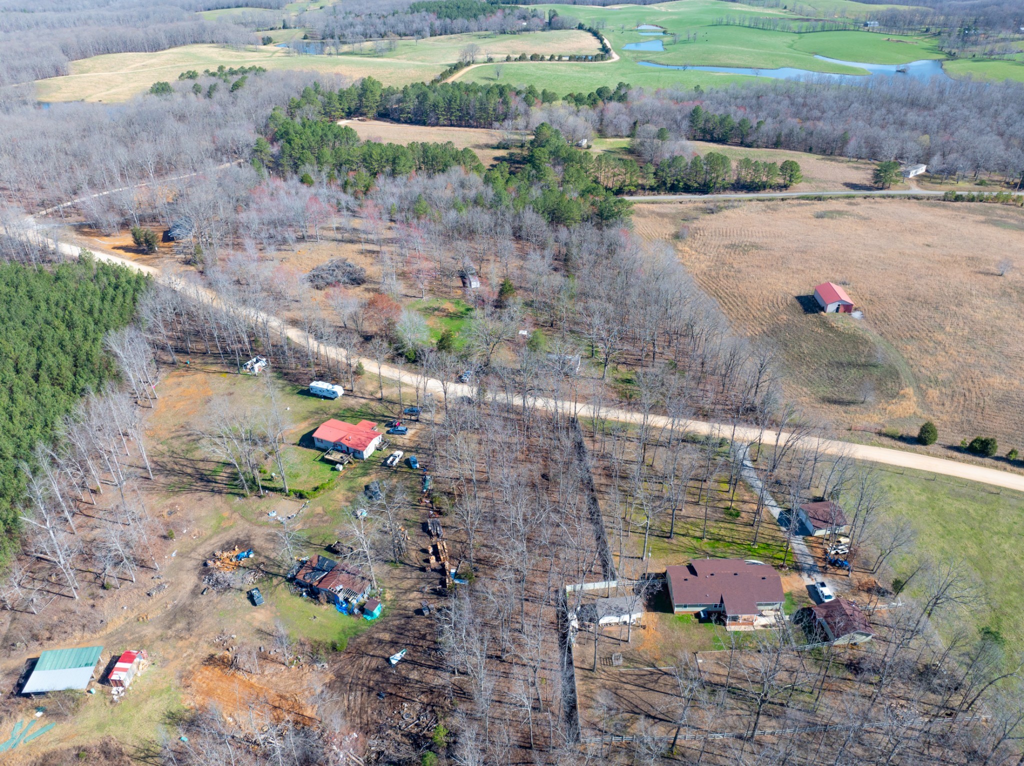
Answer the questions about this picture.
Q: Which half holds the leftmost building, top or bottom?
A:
bottom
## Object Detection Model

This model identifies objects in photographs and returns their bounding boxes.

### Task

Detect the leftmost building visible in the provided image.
[22,645,109,703]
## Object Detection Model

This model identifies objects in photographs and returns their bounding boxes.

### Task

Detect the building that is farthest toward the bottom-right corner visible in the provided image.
[802,595,876,647]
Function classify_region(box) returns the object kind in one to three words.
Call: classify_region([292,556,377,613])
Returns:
house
